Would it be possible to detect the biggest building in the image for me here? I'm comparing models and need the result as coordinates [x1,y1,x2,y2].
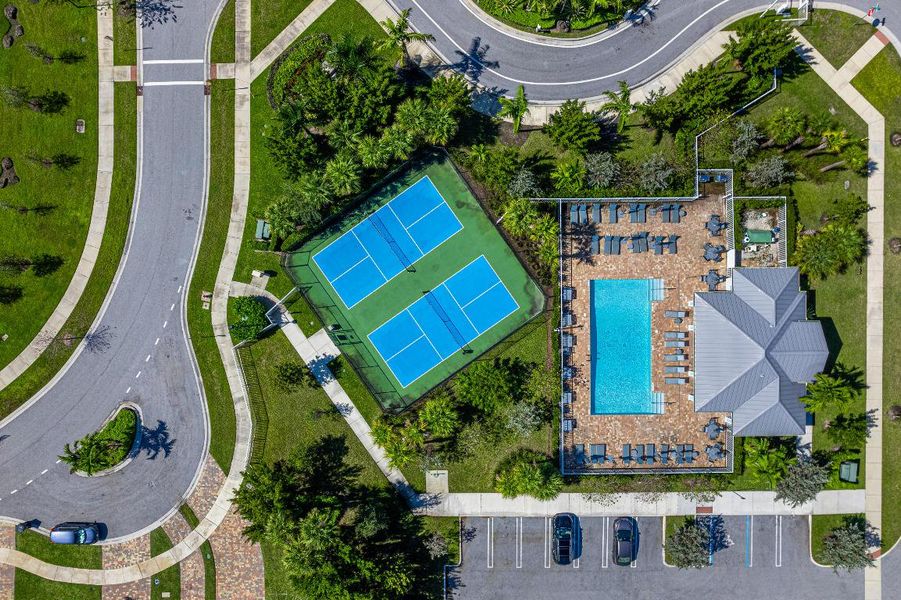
[690,267,831,435]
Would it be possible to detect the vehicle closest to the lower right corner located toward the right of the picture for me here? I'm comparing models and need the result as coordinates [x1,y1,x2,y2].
[611,513,635,565]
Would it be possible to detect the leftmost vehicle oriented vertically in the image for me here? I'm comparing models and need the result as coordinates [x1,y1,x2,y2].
[550,509,575,564]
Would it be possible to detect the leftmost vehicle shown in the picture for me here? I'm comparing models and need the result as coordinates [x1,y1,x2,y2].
[49,522,103,548]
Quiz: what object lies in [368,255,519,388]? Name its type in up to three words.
sports court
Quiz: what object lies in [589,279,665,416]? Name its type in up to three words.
swimming pool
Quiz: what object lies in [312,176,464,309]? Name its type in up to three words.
sports court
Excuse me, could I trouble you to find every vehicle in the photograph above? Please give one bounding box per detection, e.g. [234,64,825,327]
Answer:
[49,522,103,548]
[550,509,575,564]
[611,513,635,565]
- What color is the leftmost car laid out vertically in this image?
black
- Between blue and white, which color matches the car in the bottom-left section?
blue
